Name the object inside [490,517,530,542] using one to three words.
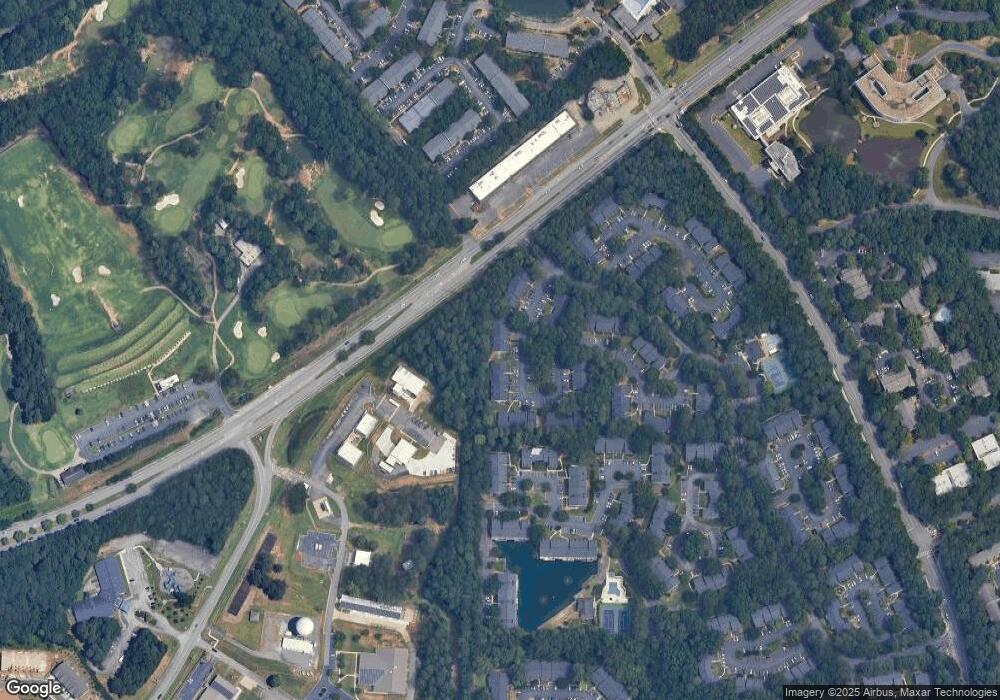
building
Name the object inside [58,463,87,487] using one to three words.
shed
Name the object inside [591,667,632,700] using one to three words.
building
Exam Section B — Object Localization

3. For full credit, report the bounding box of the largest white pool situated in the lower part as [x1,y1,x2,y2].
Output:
[602,573,628,602]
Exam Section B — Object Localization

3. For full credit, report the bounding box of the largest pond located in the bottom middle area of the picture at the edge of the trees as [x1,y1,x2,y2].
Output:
[497,539,598,636]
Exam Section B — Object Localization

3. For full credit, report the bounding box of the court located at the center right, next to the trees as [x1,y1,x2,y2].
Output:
[762,356,789,391]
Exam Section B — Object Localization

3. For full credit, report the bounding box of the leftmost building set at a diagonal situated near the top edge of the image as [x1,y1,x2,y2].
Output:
[300,6,354,67]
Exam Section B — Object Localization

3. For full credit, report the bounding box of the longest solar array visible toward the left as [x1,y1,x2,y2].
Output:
[341,602,400,620]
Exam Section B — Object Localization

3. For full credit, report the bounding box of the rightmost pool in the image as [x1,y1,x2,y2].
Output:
[936,307,951,321]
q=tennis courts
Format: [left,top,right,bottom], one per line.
[762,356,789,391]
[602,607,616,634]
[617,607,631,634]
